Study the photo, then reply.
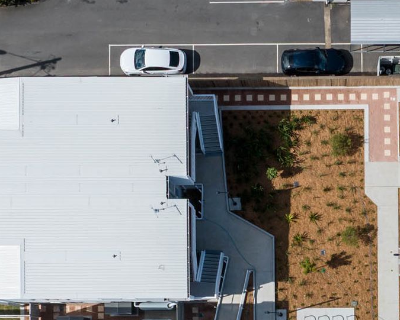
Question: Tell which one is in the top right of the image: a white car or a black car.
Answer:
black car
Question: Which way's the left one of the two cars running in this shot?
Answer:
from left to right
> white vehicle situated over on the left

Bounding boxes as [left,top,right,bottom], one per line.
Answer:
[121,43,187,78]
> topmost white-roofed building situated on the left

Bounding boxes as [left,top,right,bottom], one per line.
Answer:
[0,76,197,304]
